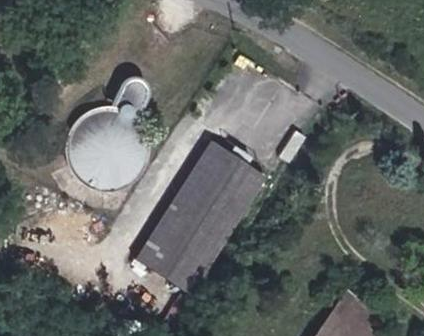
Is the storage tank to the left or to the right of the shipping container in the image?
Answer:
left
